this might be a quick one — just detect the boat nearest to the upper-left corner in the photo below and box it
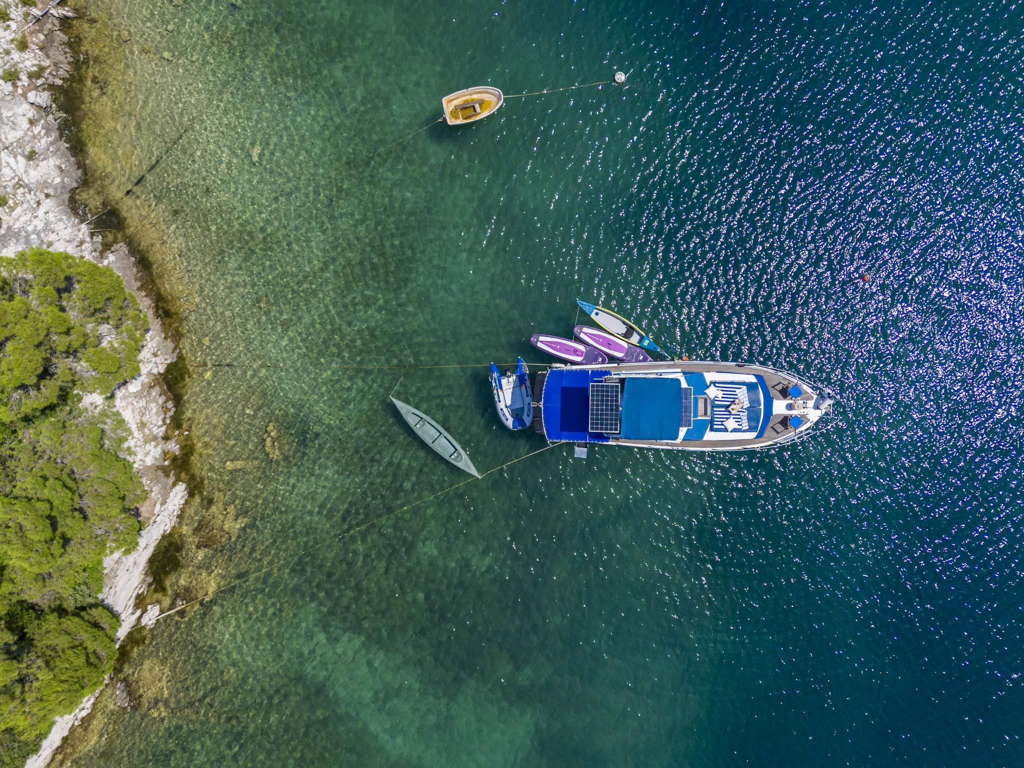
[442,86,504,127]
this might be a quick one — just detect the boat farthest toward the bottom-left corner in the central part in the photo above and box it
[390,397,481,479]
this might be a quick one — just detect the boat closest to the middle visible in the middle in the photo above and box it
[490,357,533,430]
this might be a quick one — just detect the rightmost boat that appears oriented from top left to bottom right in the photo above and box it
[576,301,672,359]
